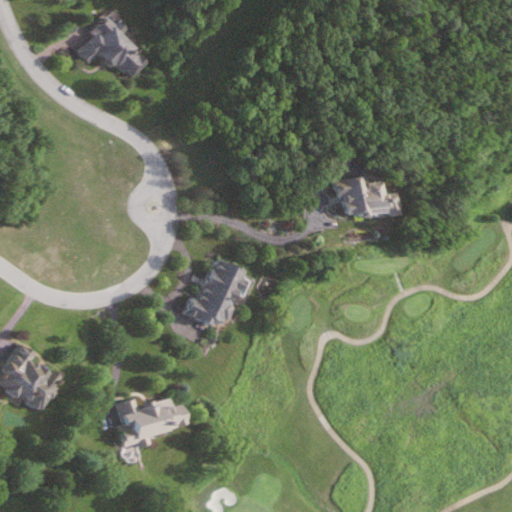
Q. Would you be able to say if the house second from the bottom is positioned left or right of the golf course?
on the left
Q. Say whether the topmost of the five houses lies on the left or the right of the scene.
left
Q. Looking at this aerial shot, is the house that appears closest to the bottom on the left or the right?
left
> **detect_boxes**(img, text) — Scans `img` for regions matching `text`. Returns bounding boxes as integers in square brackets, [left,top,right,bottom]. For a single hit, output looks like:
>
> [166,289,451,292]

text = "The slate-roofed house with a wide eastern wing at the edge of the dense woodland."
[328,174,403,222]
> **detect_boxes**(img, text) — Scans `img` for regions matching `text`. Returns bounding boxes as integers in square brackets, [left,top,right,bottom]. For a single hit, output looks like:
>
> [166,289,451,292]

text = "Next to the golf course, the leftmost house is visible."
[114,395,192,448]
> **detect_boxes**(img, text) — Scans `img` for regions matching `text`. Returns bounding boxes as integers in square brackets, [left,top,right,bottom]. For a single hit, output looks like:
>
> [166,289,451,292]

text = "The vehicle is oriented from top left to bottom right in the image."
[58,84,74,97]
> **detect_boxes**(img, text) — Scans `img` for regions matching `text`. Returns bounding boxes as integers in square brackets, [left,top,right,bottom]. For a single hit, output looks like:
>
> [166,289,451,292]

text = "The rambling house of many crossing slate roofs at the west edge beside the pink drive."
[0,342,60,410]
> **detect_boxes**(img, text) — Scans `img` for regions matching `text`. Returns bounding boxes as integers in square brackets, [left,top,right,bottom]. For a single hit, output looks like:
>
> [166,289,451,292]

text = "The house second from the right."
[180,262,256,326]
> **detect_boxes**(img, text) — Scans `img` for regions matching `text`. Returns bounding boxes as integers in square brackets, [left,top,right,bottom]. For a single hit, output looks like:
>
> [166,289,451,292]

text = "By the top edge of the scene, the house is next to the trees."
[76,8,142,70]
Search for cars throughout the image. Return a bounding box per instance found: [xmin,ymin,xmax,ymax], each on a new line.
[100,418,108,431]
[58,84,74,97]
[324,221,337,228]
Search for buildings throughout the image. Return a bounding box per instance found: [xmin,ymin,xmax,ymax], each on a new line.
[180,262,256,326]
[0,342,60,410]
[114,395,192,448]
[76,8,142,70]
[328,174,403,222]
